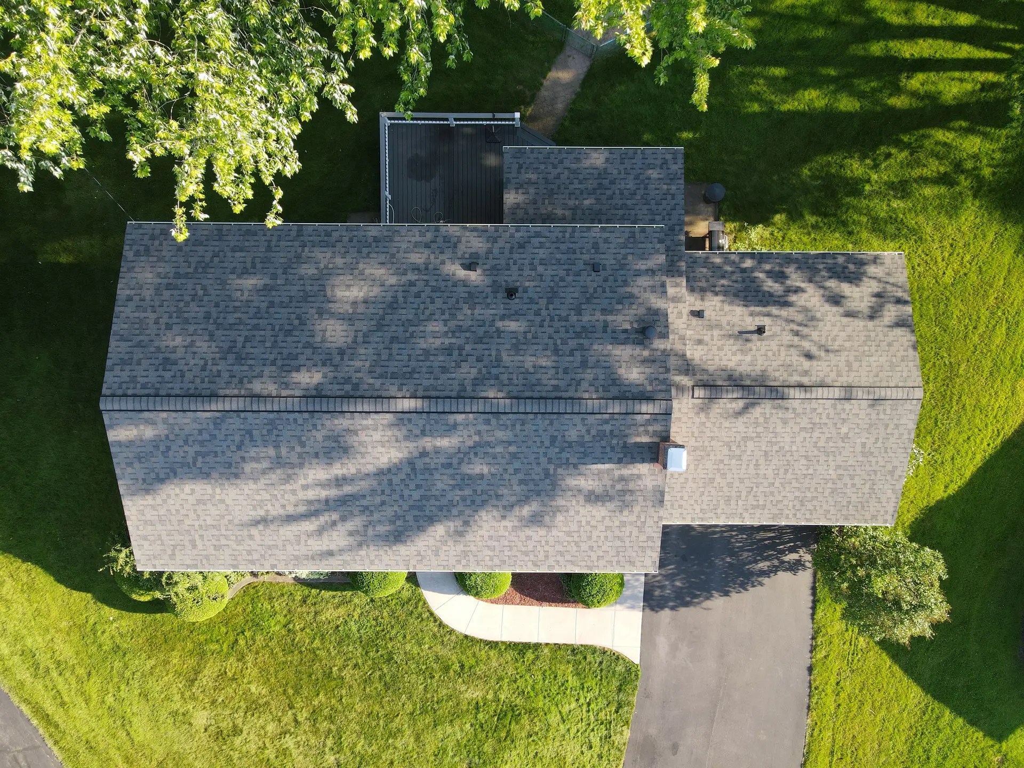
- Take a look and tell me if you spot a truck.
No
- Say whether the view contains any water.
No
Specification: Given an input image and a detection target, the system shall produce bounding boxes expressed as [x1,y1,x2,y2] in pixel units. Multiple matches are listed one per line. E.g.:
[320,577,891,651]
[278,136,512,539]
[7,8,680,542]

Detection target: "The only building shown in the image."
[99,147,924,574]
